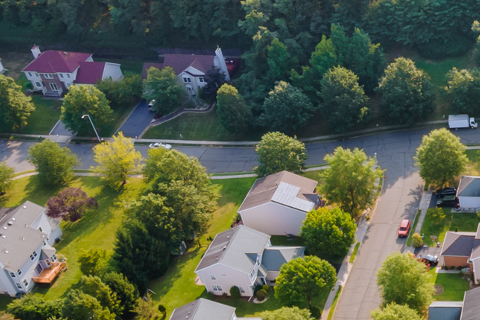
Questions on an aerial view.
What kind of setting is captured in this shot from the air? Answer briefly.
residential area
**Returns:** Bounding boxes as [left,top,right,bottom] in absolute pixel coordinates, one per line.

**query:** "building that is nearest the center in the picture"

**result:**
[235,169,322,235]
